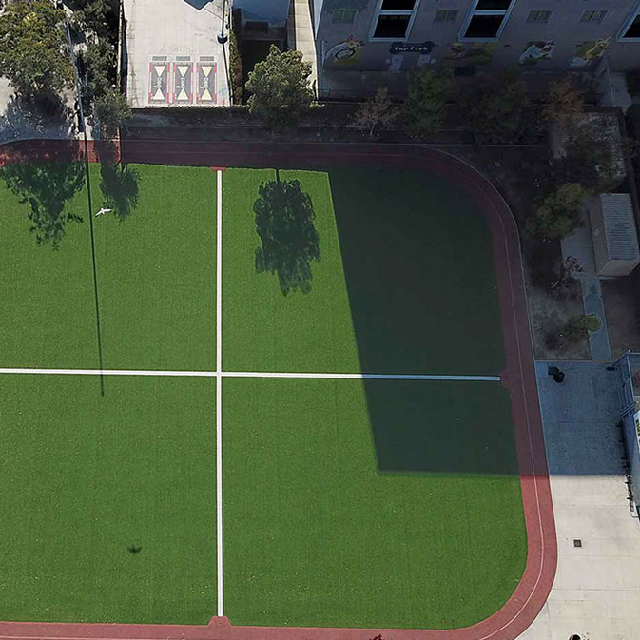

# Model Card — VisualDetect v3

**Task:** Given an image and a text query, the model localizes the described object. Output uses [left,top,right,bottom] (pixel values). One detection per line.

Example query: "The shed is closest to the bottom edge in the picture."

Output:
[591,191,640,274]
